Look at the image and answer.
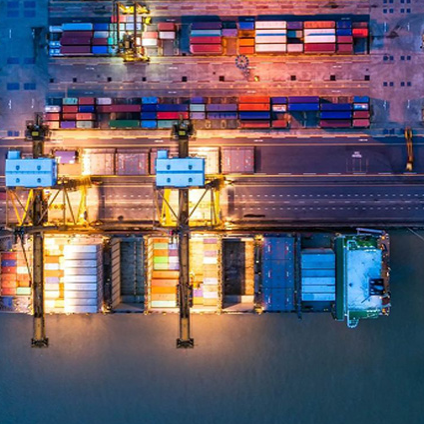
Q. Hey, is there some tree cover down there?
No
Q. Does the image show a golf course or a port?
port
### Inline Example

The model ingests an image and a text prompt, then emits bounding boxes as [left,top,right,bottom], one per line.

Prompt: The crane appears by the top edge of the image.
[112,2,155,64]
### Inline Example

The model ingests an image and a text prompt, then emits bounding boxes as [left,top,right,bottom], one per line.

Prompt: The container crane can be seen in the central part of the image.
[146,112,239,347]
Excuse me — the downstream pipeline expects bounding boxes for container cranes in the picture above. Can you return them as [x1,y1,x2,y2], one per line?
[4,114,102,348]
[112,2,155,64]
[146,112,239,347]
